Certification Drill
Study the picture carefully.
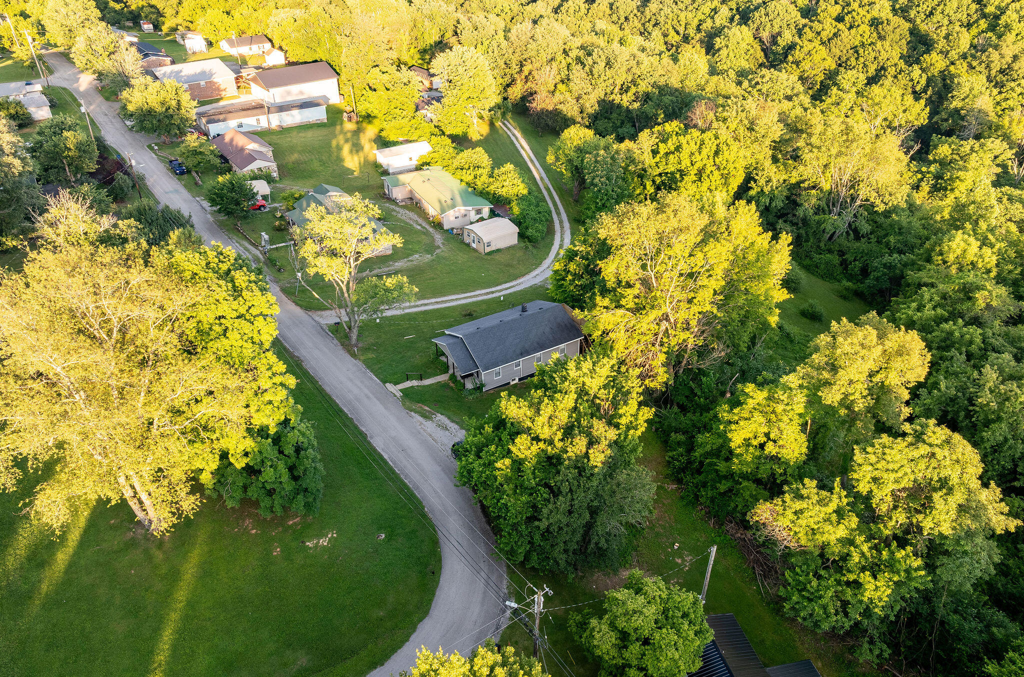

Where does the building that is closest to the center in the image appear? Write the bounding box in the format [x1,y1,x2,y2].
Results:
[428,300,585,392]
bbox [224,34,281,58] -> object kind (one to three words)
house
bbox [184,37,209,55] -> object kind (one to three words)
shed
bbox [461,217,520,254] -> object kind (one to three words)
building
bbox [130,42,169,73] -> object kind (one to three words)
house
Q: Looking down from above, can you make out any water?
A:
No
